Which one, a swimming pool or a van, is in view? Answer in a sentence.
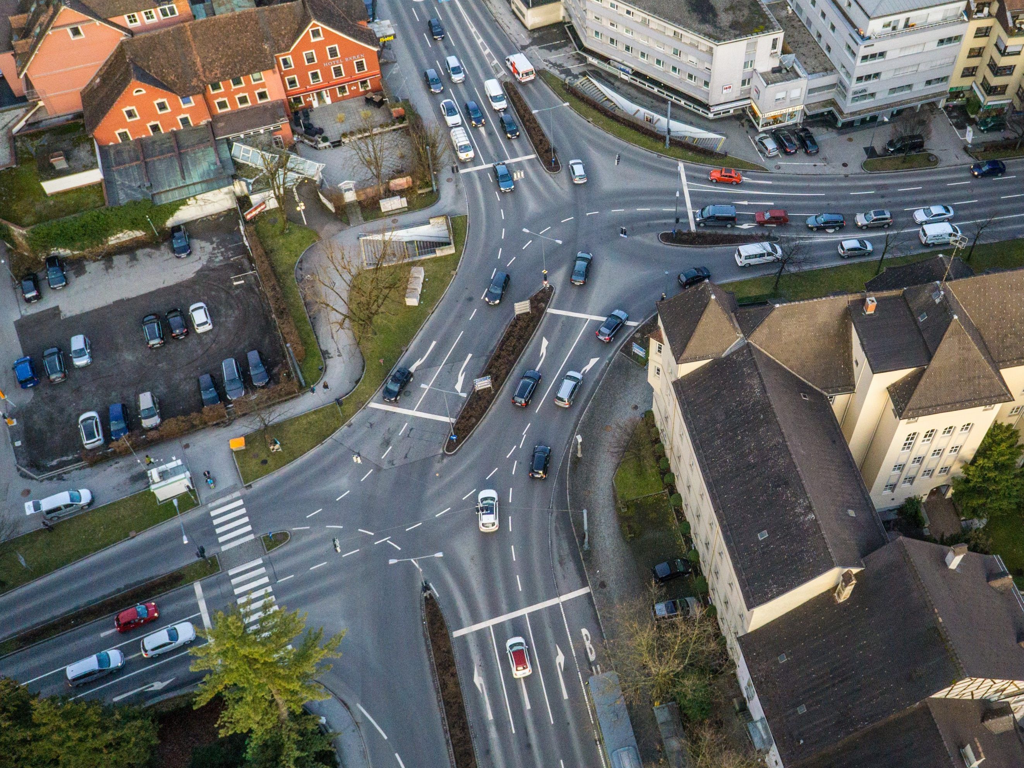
The image shows a van.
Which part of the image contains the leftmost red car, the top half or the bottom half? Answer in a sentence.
Seen from above, the leftmost red car lies in the bottom half of the view.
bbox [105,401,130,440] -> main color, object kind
blue car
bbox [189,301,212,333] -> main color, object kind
white car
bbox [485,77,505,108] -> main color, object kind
white vehicle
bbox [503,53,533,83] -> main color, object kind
white van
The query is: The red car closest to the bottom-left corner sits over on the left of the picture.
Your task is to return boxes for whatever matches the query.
[113,603,159,634]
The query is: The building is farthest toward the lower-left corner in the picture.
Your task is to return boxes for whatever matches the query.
[141,446,189,501]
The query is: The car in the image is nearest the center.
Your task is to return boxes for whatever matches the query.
[510,368,540,407]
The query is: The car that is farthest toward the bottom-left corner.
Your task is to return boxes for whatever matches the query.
[68,652,123,686]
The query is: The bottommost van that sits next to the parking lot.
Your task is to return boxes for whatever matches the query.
[28,488,91,518]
